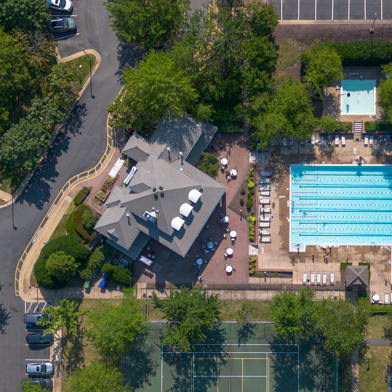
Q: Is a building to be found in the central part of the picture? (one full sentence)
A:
Yes, a building shows up in the central part of the picture.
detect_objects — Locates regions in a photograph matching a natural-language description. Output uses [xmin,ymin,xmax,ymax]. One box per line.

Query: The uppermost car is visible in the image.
[44,0,73,13]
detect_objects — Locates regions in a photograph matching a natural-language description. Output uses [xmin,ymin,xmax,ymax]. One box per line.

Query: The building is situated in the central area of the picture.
[94,108,227,261]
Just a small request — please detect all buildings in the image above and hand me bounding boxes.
[94,108,227,261]
[346,265,370,287]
